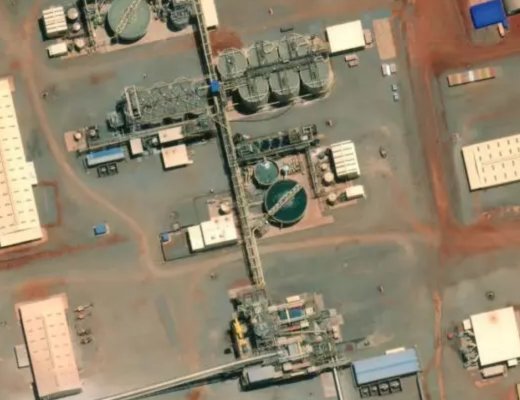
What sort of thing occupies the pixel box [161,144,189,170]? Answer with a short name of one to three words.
building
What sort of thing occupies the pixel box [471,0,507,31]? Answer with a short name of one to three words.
shed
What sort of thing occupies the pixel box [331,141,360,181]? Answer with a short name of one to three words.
building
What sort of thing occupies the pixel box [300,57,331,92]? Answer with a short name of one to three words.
storage tank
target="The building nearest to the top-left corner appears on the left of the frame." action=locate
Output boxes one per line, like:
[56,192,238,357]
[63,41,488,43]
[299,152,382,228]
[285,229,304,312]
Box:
[43,7,67,38]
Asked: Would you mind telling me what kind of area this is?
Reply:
industrial area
